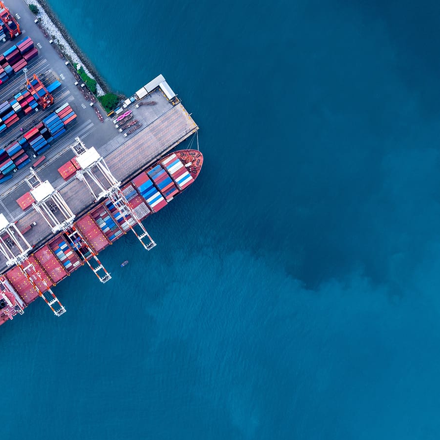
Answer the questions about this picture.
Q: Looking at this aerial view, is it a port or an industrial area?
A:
port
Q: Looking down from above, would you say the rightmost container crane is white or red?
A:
white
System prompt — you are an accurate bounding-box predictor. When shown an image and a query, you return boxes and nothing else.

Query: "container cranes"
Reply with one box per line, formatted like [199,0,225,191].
[0,2,23,45]
[0,213,67,316]
[21,168,111,283]
[24,73,55,112]
[67,135,157,250]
